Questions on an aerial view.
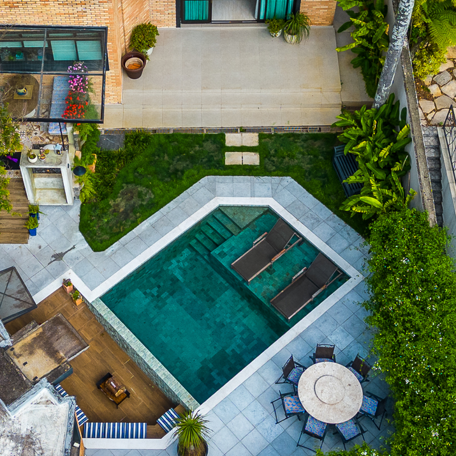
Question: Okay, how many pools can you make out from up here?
1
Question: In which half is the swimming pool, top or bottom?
bottom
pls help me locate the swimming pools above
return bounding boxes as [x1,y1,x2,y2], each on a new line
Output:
[28,196,366,450]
